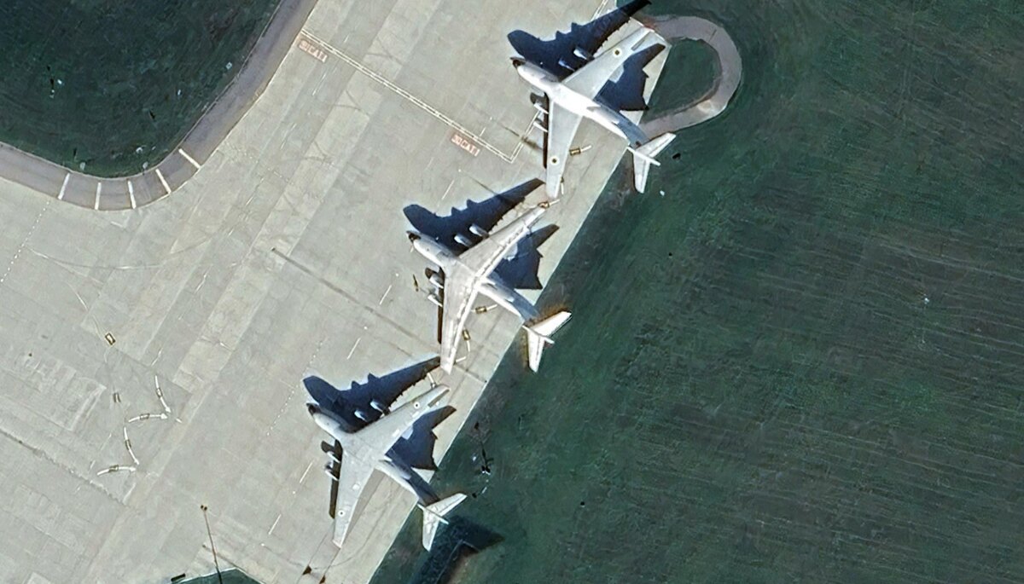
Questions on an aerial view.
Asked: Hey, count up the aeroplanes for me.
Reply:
3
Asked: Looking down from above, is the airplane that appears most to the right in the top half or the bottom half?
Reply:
top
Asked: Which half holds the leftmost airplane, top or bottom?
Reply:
bottom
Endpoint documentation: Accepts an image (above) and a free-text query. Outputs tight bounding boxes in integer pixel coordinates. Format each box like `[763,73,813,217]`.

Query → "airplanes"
[306,384,467,551]
[509,27,677,197]
[404,204,571,373]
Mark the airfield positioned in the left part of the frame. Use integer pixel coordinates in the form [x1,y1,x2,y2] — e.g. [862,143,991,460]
[0,0,742,584]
